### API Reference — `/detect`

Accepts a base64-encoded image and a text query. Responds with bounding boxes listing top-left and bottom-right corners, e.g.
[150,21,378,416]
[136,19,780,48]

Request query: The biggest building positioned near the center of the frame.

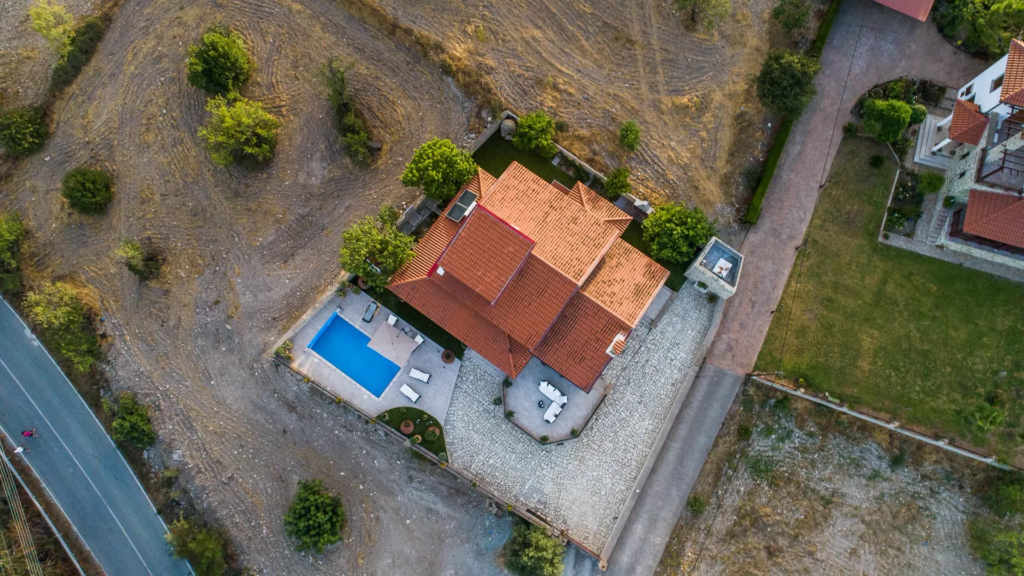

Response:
[388,161,671,392]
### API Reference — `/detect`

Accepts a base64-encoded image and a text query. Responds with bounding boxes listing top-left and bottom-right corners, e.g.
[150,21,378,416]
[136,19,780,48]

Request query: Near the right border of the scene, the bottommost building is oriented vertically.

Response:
[915,38,1024,273]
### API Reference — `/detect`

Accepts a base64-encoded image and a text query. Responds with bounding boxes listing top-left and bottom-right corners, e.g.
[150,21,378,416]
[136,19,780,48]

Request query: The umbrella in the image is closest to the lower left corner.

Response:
[368,321,419,367]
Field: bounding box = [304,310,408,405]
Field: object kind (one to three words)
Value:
swimming pool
